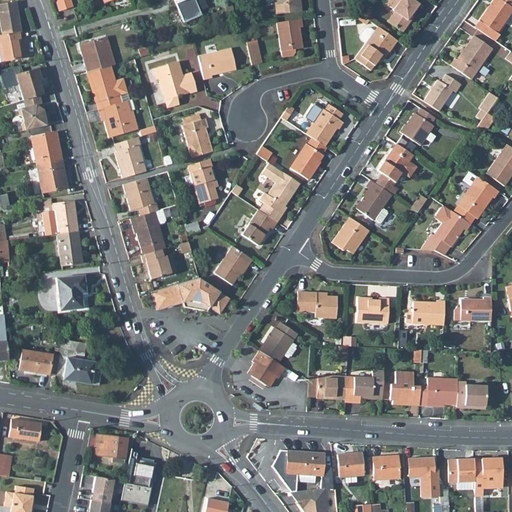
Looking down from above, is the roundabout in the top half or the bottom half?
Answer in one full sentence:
Seen from above, the roundabout lies in the bottom half of the view.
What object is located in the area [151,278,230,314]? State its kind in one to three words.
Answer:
building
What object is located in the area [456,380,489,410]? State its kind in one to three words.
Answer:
house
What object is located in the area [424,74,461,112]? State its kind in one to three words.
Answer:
house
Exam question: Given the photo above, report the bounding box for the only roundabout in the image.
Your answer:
[138,364,252,462]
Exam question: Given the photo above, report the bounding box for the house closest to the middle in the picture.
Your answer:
[212,248,252,286]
